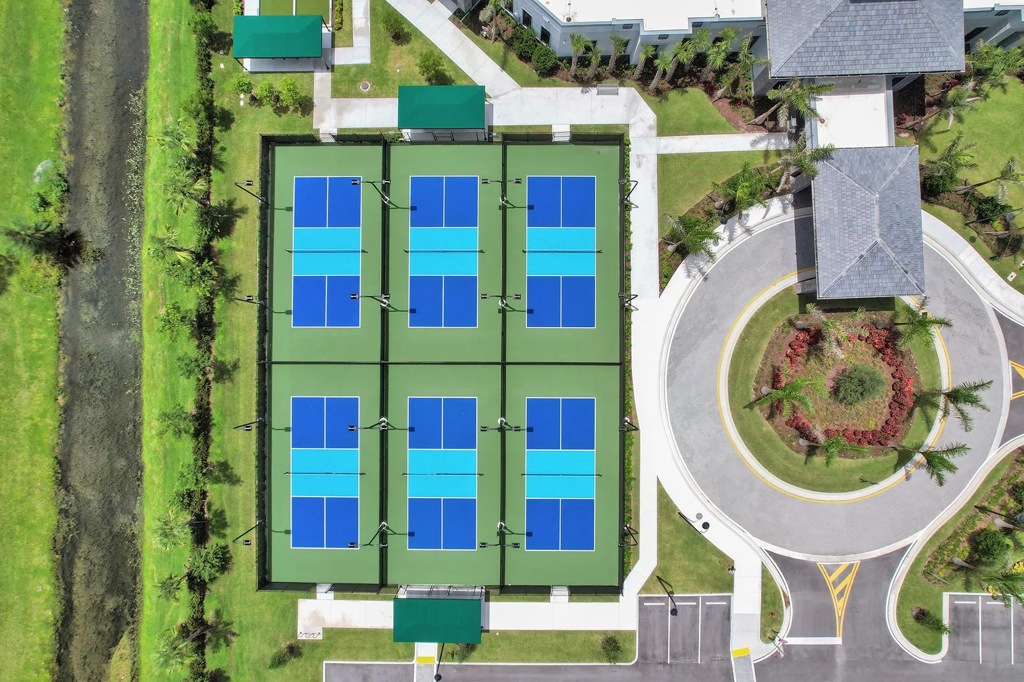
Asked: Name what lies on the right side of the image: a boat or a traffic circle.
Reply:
traffic circle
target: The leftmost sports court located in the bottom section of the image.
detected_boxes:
[268,363,385,584]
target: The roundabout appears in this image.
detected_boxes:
[659,212,1013,565]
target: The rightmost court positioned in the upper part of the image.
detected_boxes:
[502,141,620,363]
